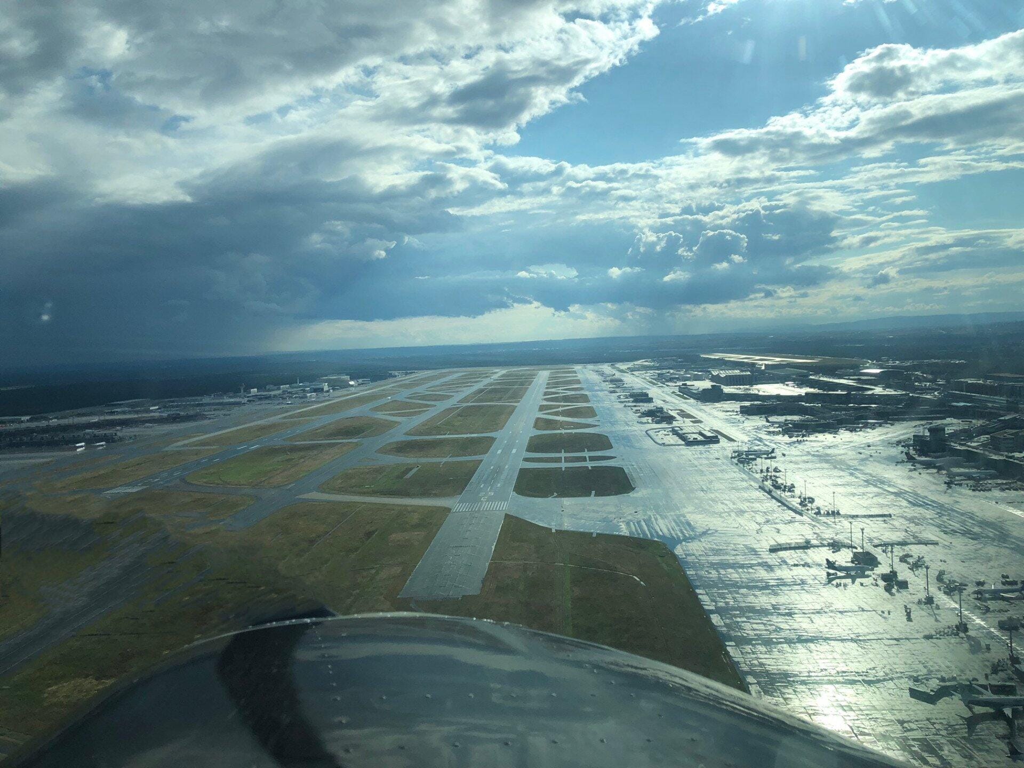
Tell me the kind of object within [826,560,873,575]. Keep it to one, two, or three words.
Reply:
airplane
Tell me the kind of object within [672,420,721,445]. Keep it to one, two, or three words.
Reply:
building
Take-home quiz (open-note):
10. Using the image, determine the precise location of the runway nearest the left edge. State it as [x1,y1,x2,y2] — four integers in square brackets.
[93,371,466,498]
